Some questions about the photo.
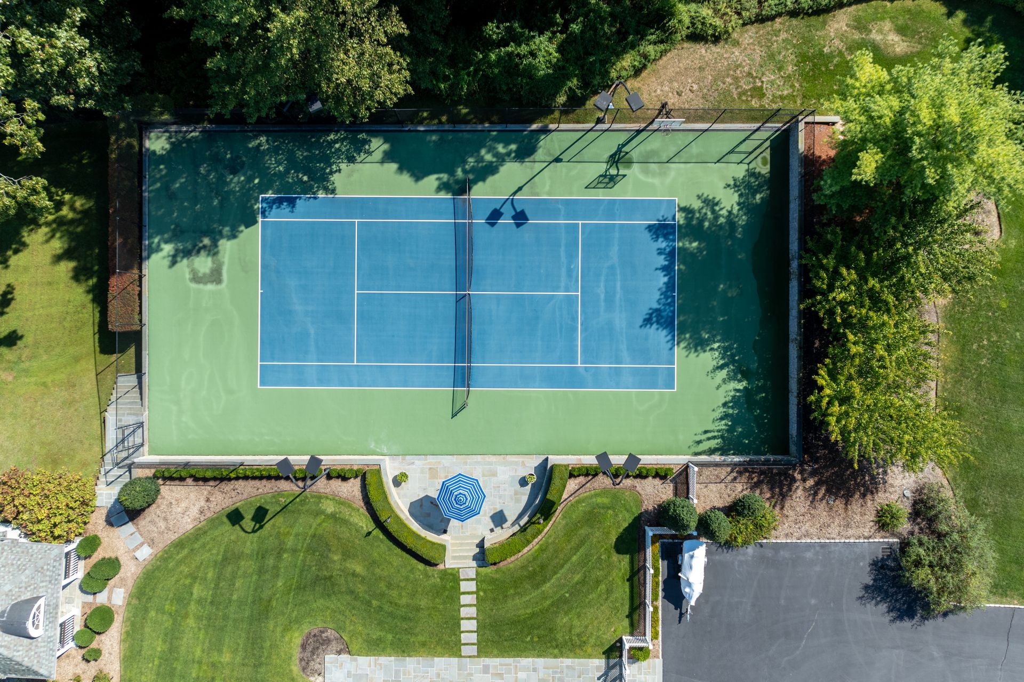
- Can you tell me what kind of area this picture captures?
sports ground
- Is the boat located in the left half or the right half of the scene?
right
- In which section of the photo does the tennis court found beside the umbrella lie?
center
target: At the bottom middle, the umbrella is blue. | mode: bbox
[436,472,486,522]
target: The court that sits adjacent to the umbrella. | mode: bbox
[148,131,790,455]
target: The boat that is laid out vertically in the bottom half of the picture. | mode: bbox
[679,539,705,605]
